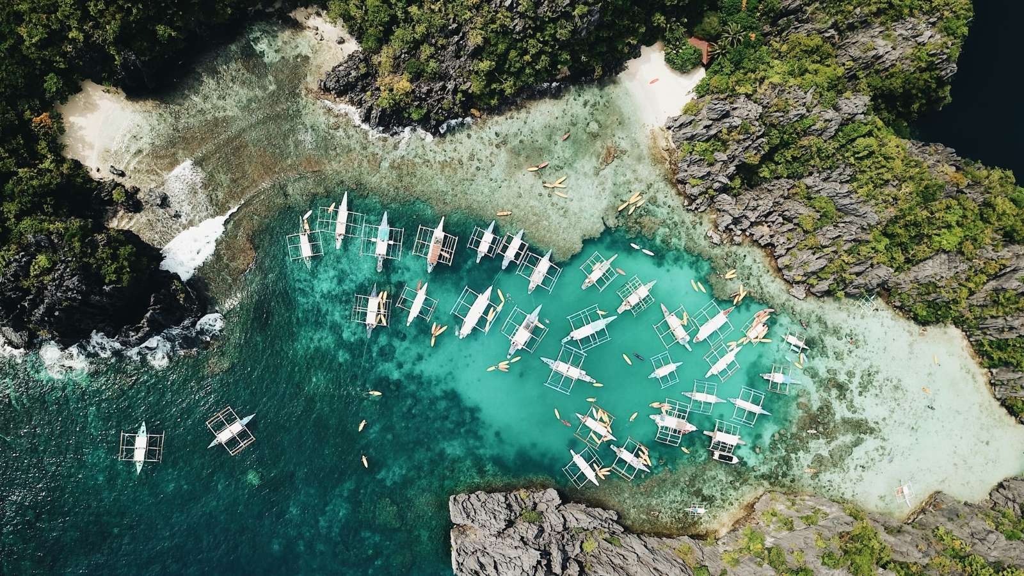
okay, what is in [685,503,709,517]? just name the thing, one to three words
boat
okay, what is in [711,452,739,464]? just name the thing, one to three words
boat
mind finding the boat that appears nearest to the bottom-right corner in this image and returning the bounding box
[895,479,917,508]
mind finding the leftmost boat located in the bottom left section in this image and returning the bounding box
[119,422,164,476]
